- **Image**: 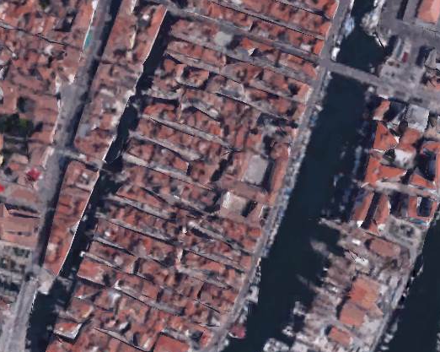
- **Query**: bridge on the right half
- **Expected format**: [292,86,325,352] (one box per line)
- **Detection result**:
[323,56,376,87]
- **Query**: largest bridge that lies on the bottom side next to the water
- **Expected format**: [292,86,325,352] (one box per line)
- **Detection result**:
[14,274,41,309]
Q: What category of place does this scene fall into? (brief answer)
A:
residential area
